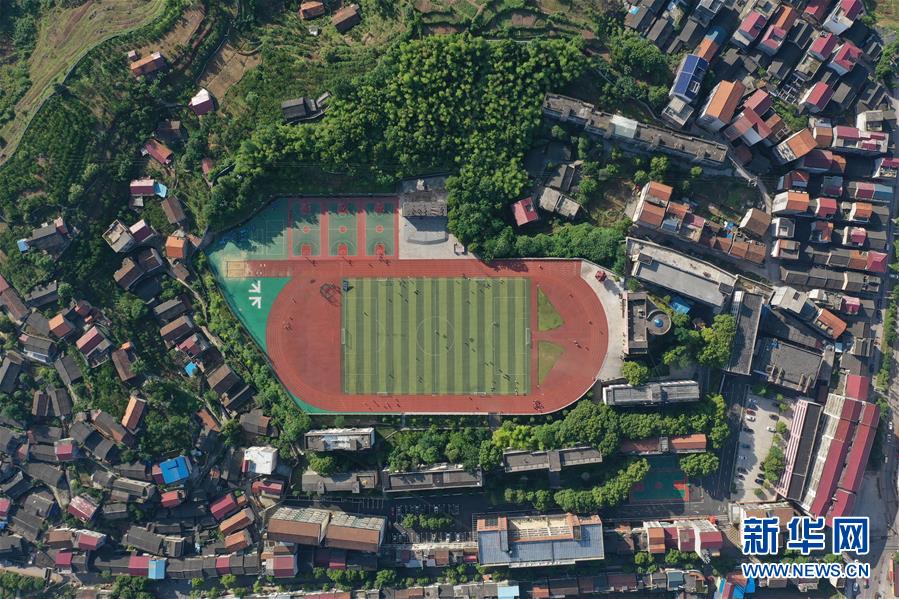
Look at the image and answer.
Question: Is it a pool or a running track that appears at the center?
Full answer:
The feature located at the center is a running track.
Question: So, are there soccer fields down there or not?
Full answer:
Yes, the image includes a soccer field.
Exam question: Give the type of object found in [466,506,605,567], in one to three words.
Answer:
building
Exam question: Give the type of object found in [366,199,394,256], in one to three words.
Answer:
basketball court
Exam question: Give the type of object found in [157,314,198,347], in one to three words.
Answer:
house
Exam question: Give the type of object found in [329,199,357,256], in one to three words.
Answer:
basketball court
